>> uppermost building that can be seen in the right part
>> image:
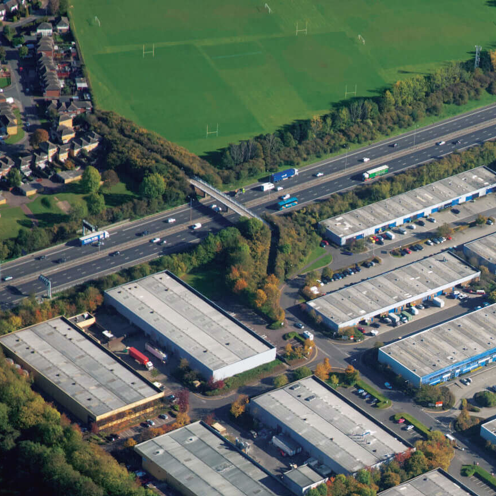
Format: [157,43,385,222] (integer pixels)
[319,166,496,246]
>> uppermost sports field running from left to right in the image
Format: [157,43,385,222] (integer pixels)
[89,0,282,48]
